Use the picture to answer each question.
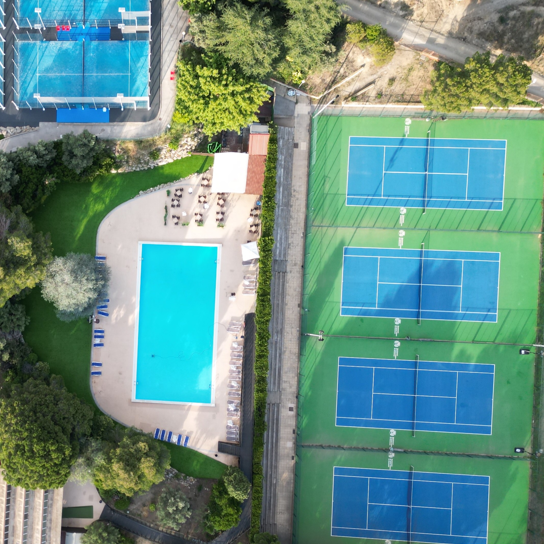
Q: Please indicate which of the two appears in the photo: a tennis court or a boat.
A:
tennis court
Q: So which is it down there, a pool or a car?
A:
pool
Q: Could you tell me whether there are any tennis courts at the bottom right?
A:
Yes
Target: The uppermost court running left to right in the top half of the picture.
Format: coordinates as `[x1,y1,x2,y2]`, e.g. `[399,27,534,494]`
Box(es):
[13,0,151,28]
